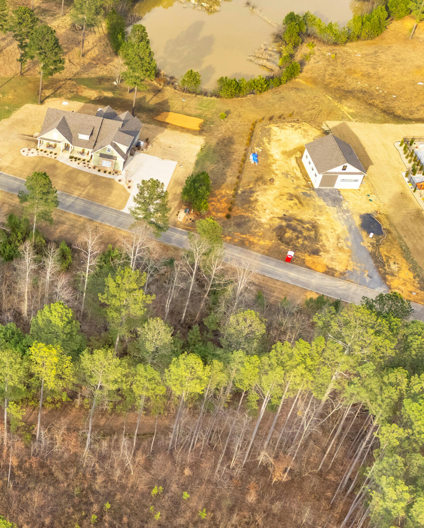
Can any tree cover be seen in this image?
Yes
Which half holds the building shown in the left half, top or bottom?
top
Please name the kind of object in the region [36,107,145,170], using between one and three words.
building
